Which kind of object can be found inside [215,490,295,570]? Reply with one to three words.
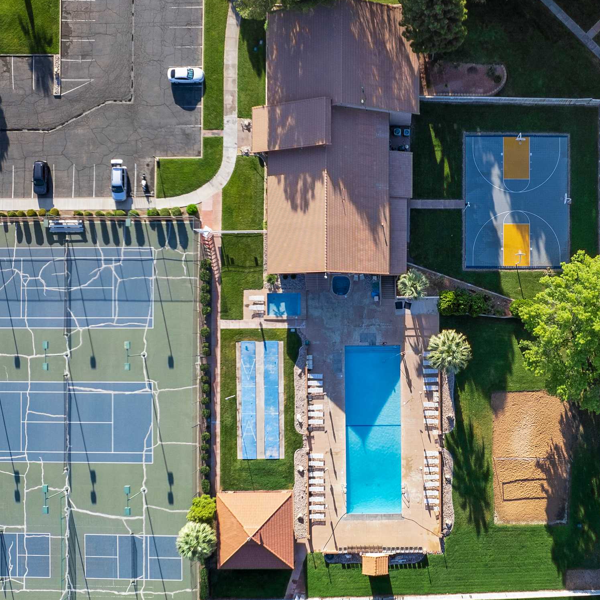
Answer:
building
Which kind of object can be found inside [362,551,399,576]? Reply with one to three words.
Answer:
shed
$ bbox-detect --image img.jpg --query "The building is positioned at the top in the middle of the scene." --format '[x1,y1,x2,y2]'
[252,0,419,277]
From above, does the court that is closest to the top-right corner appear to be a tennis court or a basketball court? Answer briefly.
basketball court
